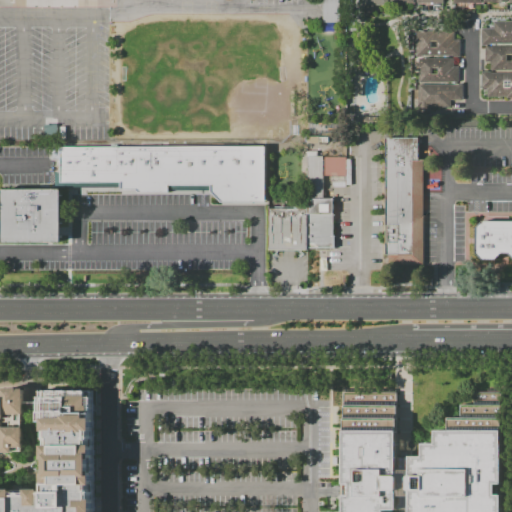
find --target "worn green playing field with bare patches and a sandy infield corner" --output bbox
[124,21,292,136]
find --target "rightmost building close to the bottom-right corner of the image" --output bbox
[404,392,501,512]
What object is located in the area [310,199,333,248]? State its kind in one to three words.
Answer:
building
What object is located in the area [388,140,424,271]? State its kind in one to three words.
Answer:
building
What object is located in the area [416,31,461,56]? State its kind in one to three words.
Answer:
house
